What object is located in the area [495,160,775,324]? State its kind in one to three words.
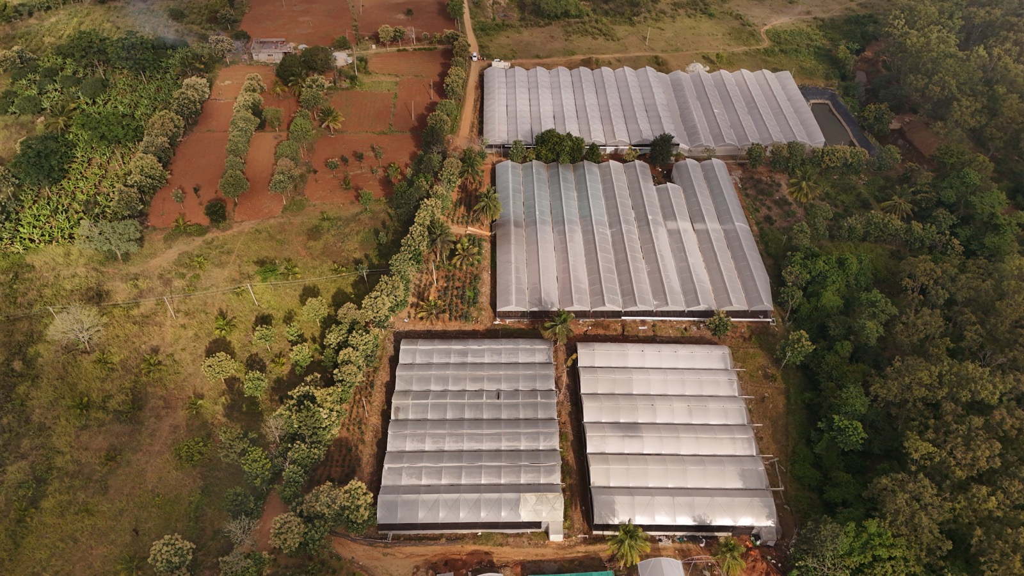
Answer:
greenhouse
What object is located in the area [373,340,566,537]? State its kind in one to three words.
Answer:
greenhouse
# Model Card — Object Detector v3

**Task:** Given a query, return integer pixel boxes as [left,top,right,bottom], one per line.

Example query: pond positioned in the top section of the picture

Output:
[798,86,909,176]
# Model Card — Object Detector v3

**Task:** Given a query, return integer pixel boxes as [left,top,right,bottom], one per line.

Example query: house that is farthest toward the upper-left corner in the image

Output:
[248,38,297,62]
